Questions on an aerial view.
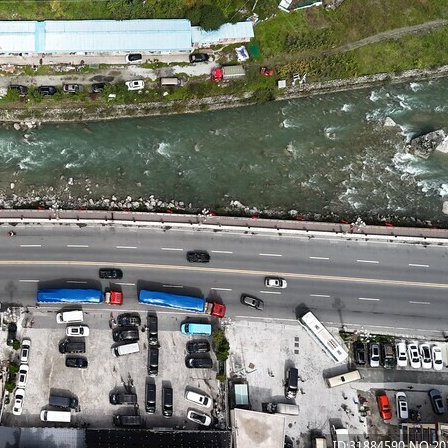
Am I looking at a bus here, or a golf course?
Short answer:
bus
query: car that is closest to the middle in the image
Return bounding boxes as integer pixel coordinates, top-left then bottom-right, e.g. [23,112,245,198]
[187,250,210,262]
